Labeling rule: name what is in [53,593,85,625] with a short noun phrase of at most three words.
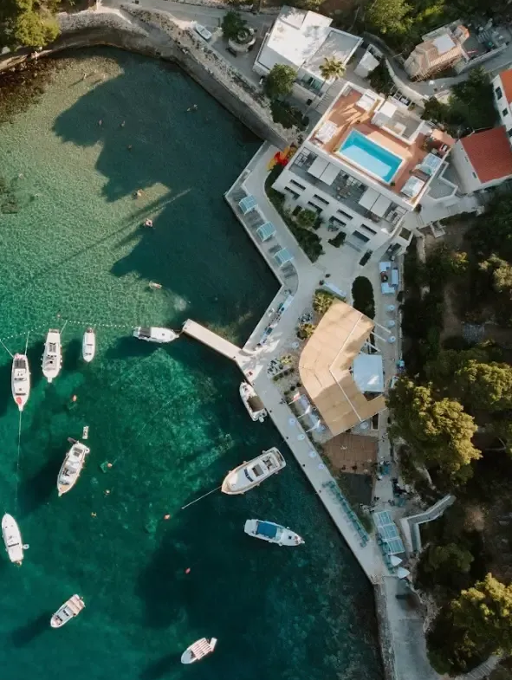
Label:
boat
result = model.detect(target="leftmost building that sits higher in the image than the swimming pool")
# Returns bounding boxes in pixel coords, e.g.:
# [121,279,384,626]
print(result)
[247,5,363,104]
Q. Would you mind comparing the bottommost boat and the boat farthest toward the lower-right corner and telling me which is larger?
the boat farthest toward the lower-right corner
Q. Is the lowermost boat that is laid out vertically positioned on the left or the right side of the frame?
left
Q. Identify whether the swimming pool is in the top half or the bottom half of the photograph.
top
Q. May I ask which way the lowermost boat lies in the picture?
at an angle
